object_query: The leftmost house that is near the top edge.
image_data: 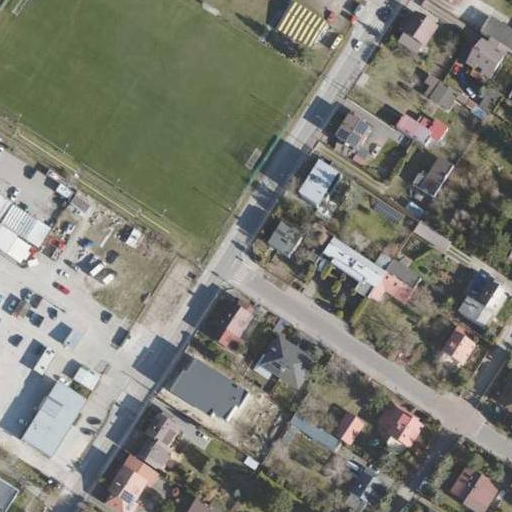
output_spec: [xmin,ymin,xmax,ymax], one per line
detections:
[398,13,437,58]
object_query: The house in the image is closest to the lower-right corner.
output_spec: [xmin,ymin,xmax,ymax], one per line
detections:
[450,468,498,512]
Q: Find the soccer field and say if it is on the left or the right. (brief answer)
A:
left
